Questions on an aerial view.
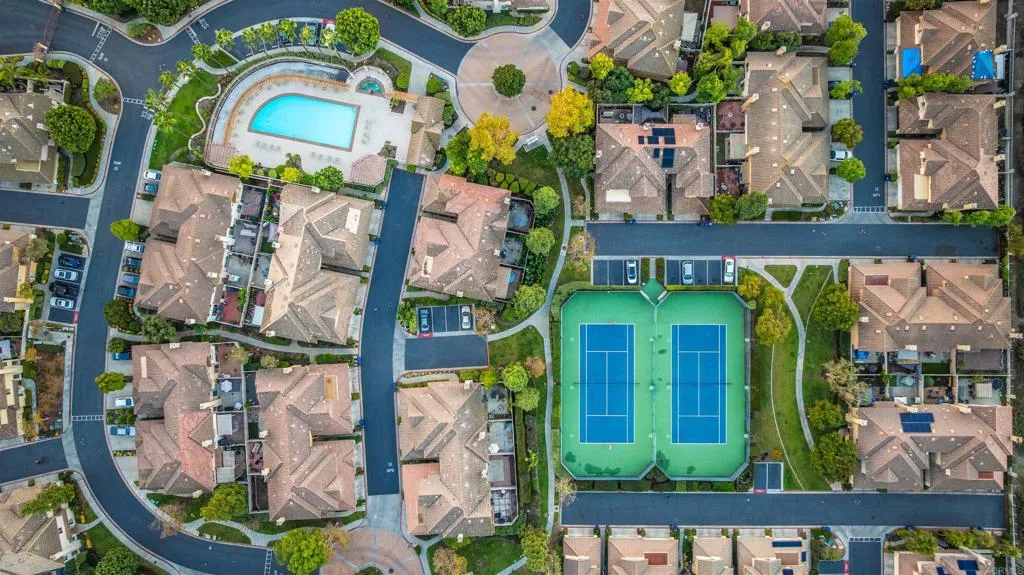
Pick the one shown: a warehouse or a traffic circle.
traffic circle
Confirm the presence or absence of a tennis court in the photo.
Yes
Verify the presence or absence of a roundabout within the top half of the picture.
Yes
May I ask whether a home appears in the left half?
Yes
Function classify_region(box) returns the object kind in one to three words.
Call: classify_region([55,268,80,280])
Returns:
vehicle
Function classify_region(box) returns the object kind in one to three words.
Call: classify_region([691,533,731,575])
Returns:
house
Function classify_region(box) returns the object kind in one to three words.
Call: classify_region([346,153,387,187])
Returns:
gazebo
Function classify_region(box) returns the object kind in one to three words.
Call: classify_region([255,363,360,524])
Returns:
house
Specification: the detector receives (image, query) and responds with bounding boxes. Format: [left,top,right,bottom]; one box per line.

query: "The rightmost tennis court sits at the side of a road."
[656,285,748,480]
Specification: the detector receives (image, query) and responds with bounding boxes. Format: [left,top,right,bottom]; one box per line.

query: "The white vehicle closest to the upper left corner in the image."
[140,168,163,182]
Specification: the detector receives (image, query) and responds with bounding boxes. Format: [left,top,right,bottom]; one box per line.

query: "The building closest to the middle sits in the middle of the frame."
[408,174,512,301]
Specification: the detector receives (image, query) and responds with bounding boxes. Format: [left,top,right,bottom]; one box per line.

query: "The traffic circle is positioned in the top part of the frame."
[456,30,564,133]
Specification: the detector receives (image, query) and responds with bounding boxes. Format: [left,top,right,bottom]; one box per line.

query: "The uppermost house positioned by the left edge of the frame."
[0,92,80,188]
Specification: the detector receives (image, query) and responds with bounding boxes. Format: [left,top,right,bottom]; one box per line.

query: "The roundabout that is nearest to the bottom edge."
[315,527,421,575]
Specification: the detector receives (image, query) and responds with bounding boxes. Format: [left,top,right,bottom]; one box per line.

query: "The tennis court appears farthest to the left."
[561,280,656,479]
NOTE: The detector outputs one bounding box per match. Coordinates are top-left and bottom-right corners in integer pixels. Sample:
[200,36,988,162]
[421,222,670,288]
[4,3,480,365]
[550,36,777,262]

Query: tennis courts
[656,285,748,480]
[561,280,656,479]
